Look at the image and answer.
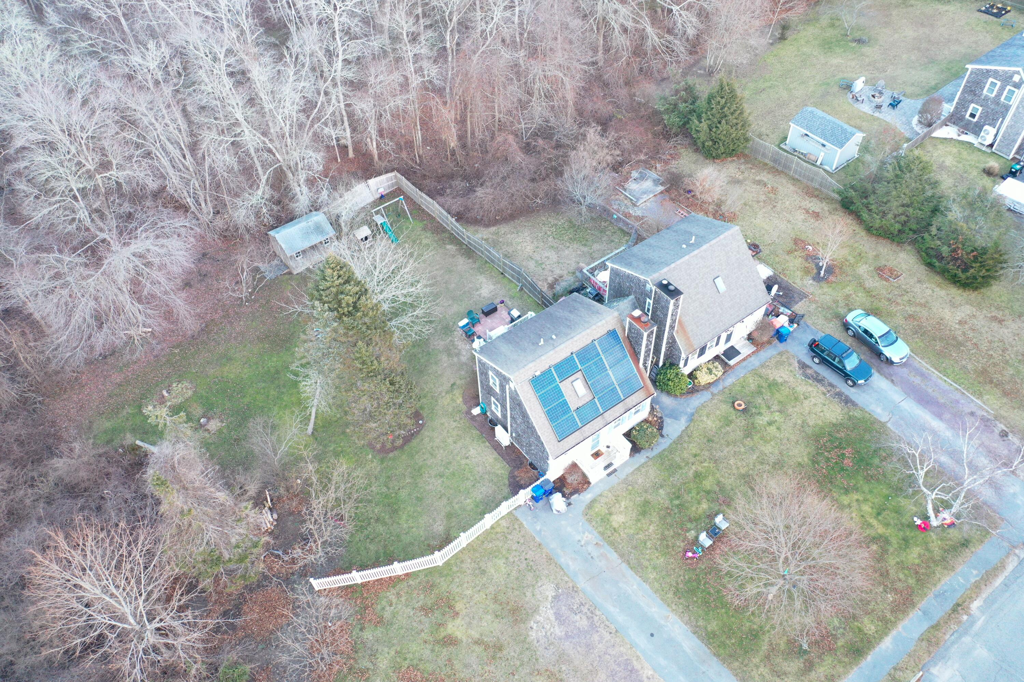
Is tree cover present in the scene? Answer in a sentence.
Yes, tree cover can be seen from above here.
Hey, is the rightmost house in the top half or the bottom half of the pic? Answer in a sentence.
The rightmost house sits in the top half of the picture.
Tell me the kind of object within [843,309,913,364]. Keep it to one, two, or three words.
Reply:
car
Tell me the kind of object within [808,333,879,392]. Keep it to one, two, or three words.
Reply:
car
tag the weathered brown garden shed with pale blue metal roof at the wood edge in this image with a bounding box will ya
[266,209,338,274]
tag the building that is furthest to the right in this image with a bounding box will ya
[927,35,1024,163]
